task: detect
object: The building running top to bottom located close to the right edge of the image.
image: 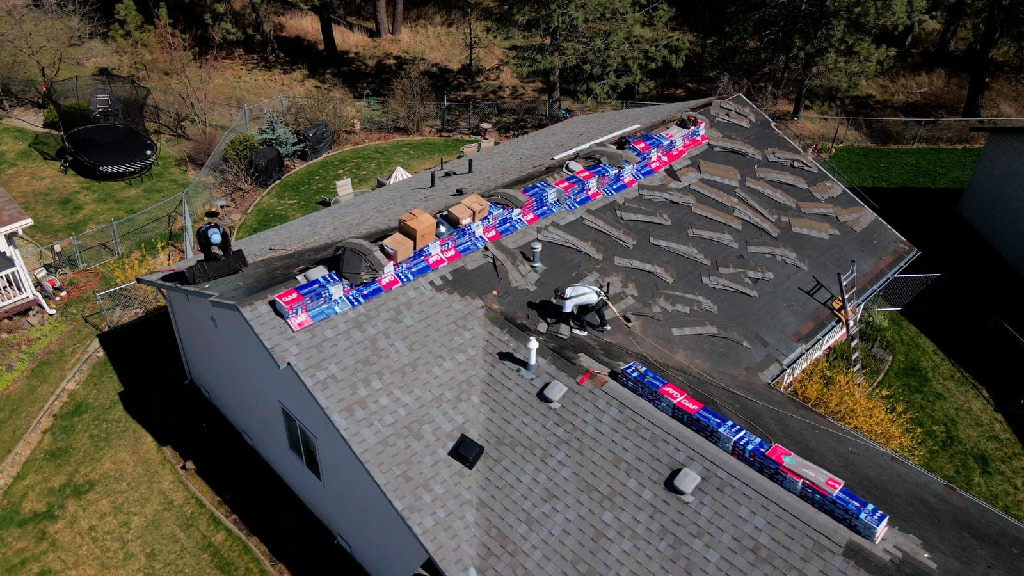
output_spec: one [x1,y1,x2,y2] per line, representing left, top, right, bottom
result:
[961,123,1024,279]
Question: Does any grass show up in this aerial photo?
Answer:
Yes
